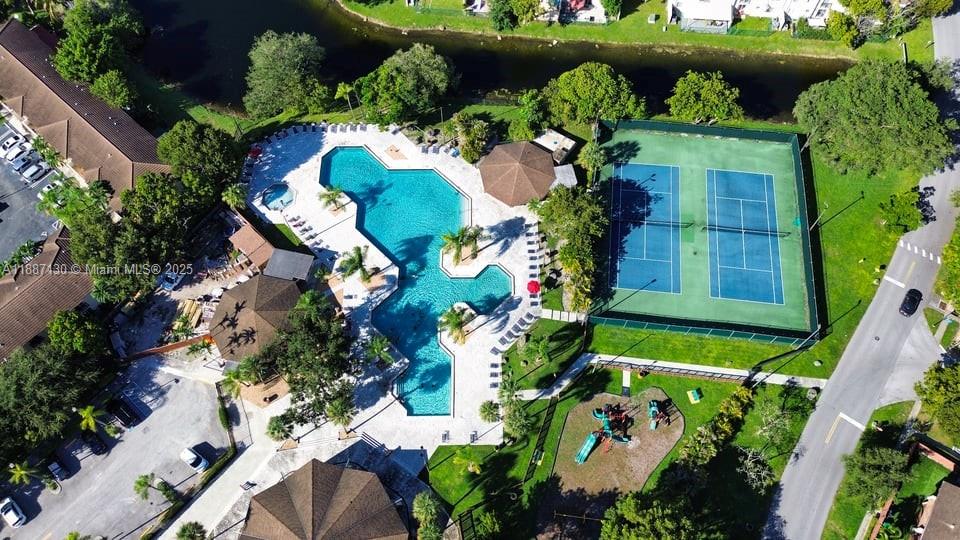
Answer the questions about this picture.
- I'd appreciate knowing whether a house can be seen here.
Yes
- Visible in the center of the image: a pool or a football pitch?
pool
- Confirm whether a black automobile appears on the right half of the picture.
Yes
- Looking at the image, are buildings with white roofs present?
Yes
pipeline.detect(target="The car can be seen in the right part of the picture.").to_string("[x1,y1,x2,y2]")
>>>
[901,287,925,317]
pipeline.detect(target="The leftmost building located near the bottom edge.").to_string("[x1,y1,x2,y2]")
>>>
[234,458,414,540]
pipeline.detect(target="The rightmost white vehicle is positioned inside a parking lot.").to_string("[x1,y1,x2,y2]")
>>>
[176,445,209,473]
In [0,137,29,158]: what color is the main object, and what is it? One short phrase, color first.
white car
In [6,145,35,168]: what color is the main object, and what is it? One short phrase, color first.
white car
